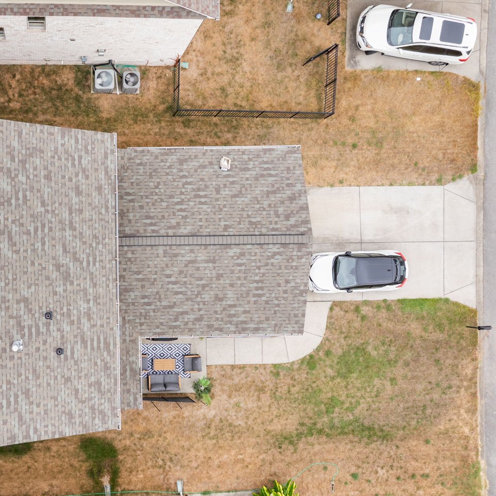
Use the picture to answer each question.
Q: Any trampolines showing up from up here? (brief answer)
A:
No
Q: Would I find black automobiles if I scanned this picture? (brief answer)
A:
No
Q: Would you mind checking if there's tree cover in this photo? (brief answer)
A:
No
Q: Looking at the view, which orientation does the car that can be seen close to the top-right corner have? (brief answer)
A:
from side to side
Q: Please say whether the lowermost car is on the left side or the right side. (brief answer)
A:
right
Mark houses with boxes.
[0,0,223,65]
[0,118,314,446]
